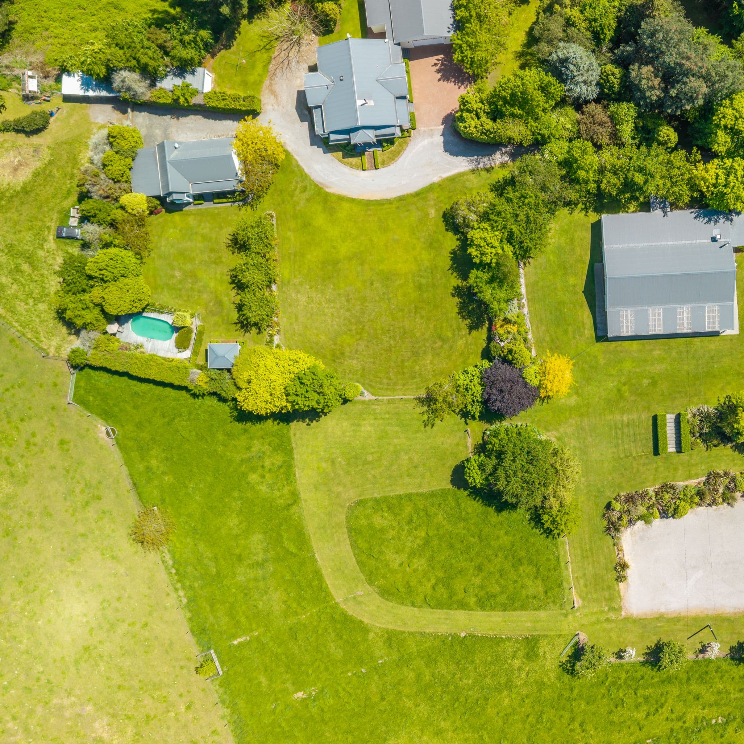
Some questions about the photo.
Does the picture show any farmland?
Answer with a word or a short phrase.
Yes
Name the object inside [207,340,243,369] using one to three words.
gazebo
